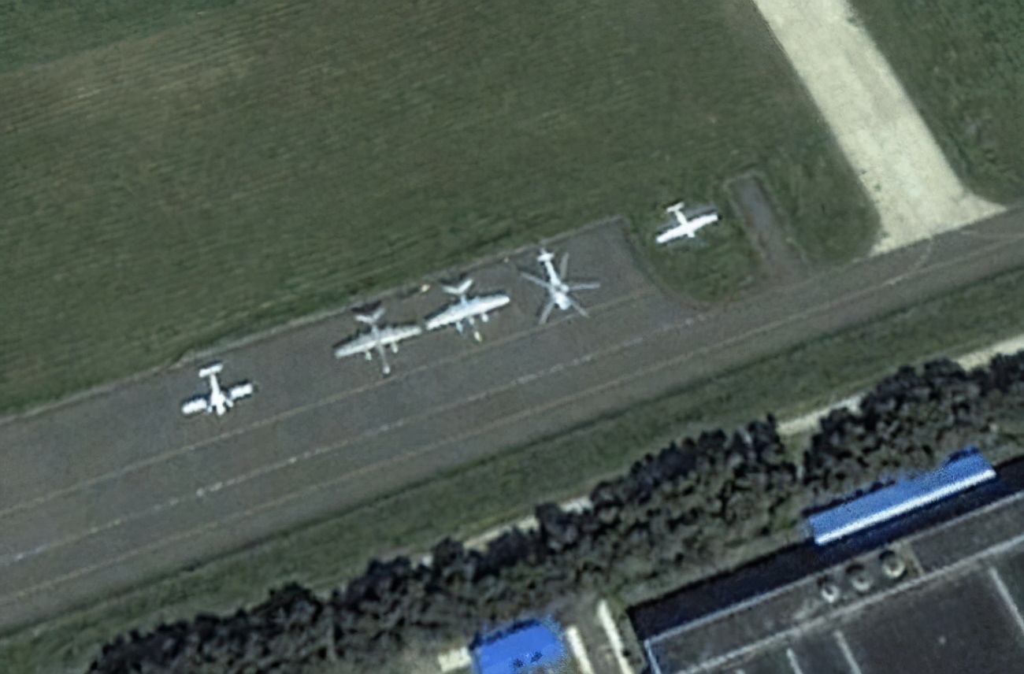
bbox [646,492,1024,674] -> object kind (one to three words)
building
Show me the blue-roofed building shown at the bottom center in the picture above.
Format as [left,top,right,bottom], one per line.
[476,621,577,674]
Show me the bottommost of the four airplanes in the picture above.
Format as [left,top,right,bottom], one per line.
[182,366,253,417]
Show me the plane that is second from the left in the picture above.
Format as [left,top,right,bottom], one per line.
[333,305,419,374]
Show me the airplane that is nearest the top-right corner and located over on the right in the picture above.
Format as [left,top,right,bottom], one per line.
[659,199,720,240]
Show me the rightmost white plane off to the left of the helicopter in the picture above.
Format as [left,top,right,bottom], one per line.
[424,275,509,342]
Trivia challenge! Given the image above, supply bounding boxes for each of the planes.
[424,275,509,342]
[182,366,253,417]
[659,199,720,240]
[333,305,419,374]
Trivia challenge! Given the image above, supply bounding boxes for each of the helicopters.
[521,248,600,324]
